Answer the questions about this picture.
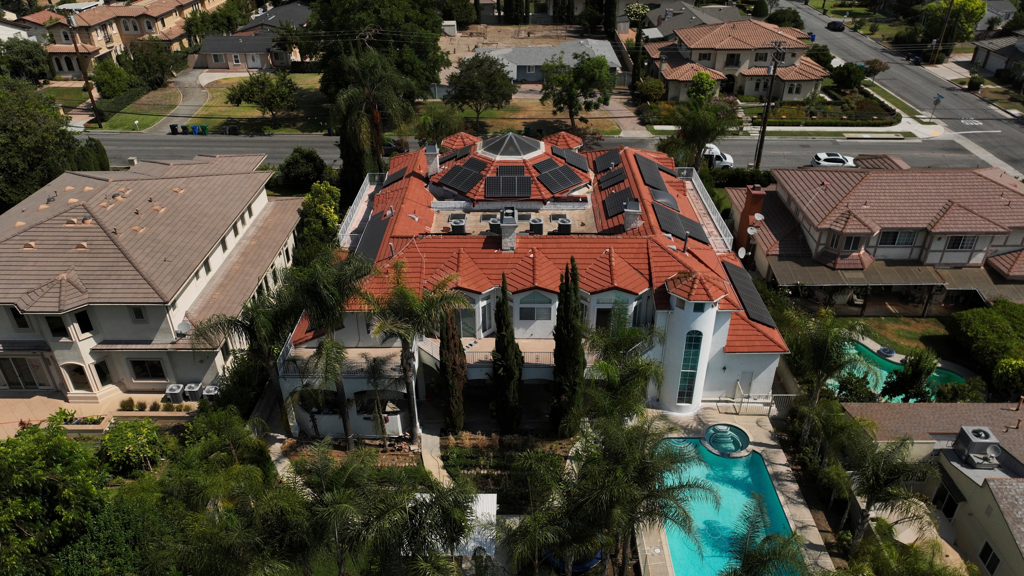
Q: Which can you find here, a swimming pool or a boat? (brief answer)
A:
swimming pool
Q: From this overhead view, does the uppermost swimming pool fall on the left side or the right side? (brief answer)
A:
right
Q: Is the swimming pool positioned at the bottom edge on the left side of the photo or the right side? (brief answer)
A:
right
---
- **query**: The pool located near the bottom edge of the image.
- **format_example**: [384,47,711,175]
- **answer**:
[638,434,818,576]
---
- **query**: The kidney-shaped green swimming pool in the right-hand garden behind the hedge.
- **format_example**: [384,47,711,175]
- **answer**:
[834,341,957,403]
